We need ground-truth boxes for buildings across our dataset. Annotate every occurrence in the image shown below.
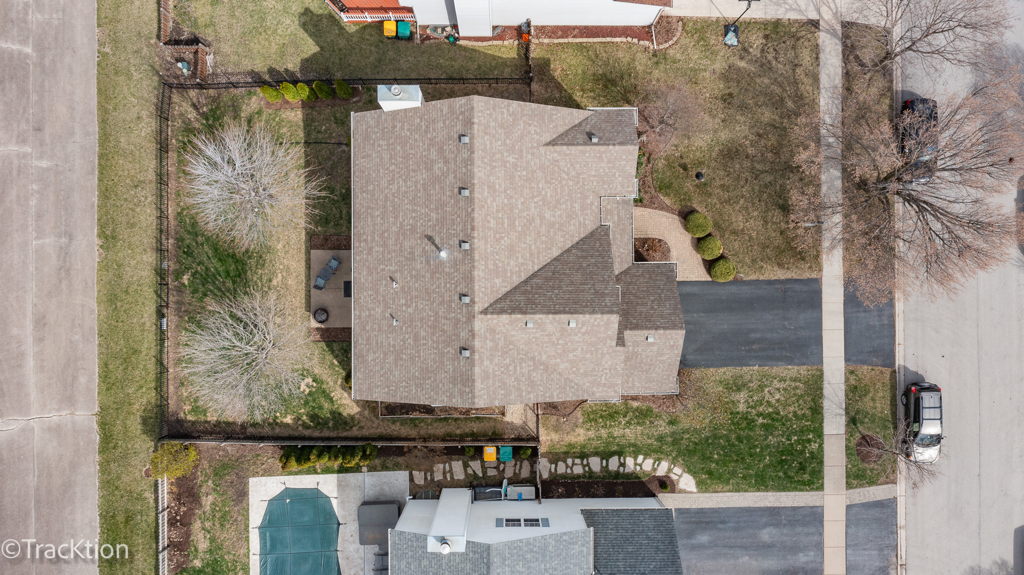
[398,0,673,46]
[386,488,683,575]
[349,84,686,408]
